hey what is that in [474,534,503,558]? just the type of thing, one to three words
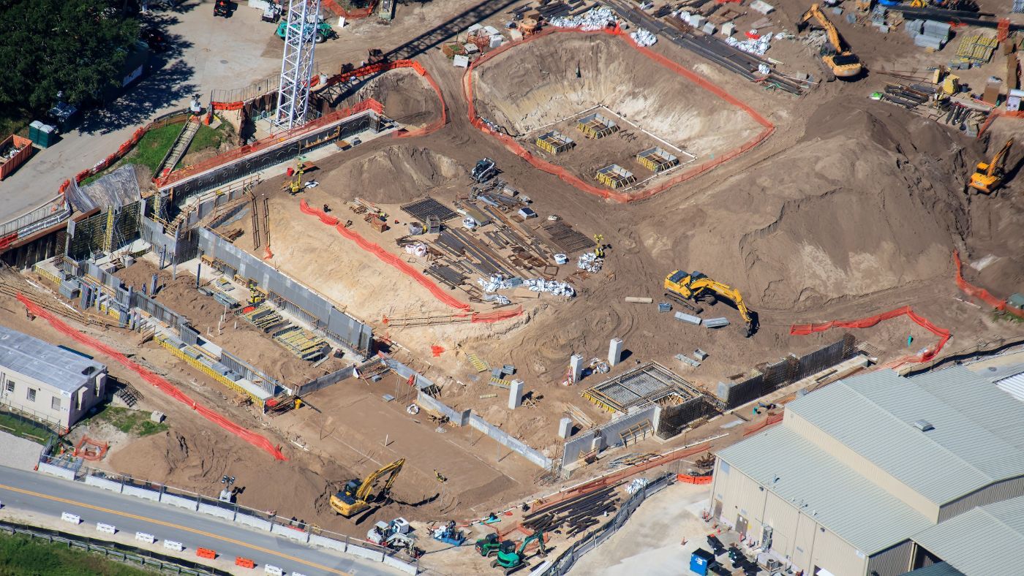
work vehicle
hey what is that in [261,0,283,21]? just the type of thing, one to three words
work vehicle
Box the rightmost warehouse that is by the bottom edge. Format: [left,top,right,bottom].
[708,358,1024,576]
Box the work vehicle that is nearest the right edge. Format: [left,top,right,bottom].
[967,136,1015,196]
